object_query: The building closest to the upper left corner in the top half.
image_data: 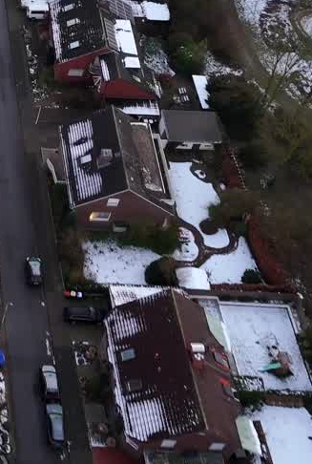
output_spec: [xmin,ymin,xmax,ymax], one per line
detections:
[47,0,137,87]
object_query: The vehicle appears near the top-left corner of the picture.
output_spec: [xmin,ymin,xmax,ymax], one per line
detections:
[14,1,56,20]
